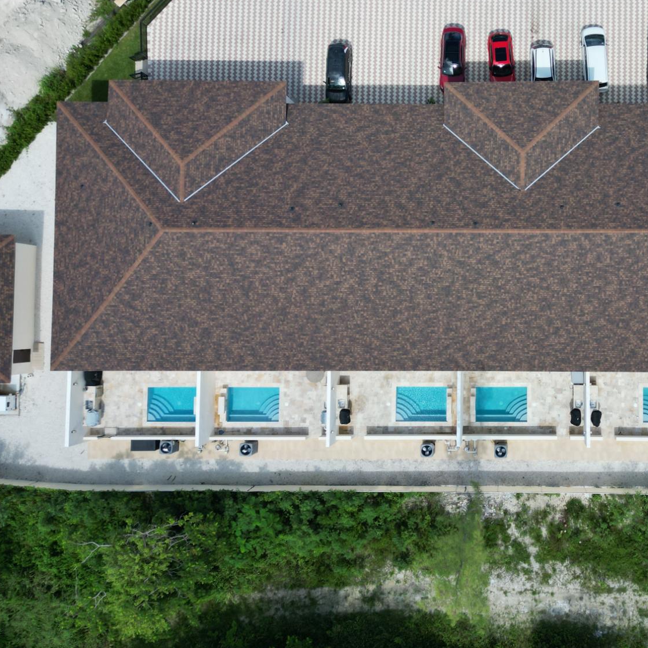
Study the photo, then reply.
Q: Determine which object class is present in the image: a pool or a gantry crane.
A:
pool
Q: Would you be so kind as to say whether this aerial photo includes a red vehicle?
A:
Yes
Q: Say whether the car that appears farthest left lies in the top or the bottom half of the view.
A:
top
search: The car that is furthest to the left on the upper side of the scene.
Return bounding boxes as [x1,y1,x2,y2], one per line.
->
[323,41,355,101]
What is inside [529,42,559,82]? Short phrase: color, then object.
white car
